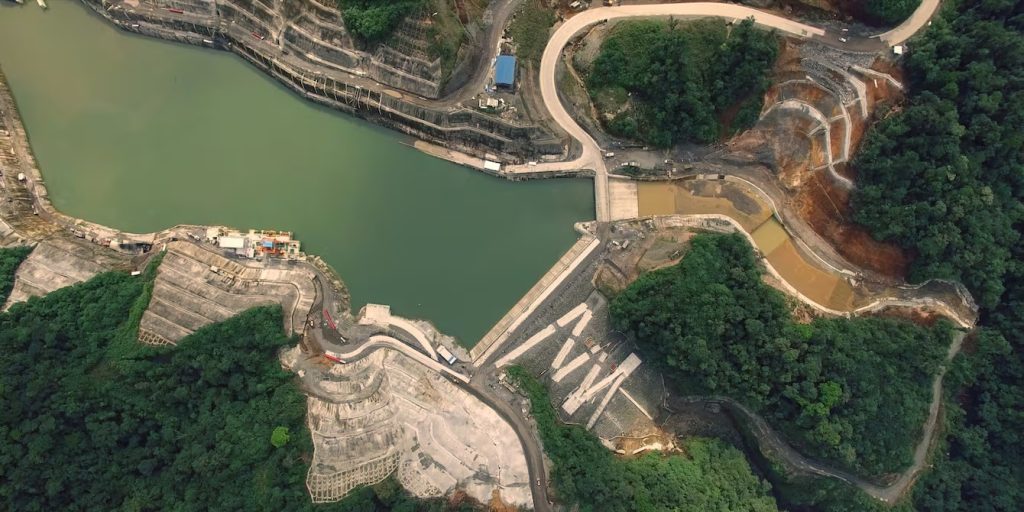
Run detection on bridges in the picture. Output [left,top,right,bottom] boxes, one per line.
[594,180,609,223]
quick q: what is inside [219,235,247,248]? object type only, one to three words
building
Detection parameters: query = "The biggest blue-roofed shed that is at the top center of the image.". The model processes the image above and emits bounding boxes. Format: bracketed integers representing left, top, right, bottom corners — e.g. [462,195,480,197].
[496,55,516,88]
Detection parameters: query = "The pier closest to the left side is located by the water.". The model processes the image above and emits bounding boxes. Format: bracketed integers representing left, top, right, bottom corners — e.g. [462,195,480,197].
[415,141,485,171]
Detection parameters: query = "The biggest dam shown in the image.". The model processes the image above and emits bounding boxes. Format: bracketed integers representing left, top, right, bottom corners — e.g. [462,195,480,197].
[471,235,665,441]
